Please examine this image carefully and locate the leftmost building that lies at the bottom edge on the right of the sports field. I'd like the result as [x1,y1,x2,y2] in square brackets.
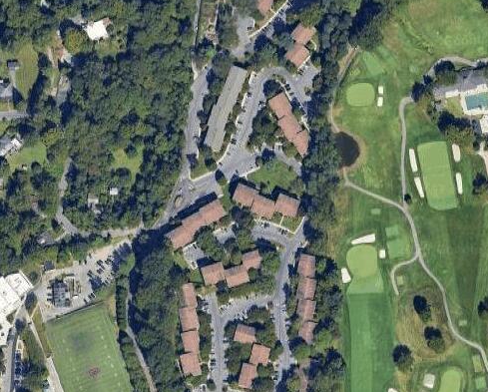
[178,283,202,375]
